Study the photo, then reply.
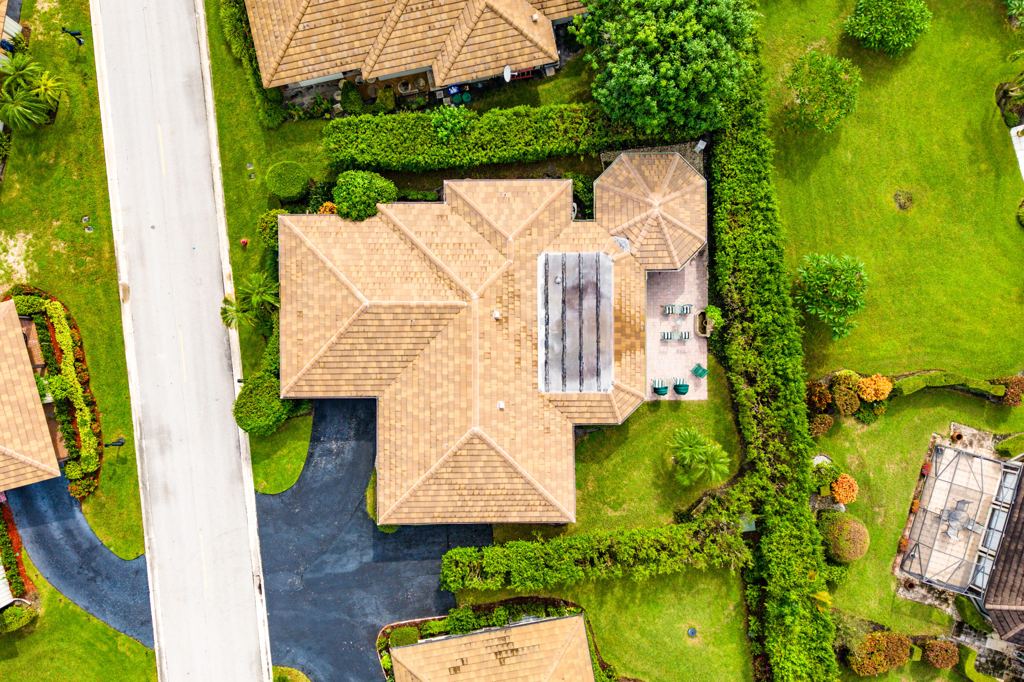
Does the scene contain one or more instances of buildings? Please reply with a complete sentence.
Yes, looking at the shot, I can spot a building.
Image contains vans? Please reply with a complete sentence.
No, no van is visible in the scene.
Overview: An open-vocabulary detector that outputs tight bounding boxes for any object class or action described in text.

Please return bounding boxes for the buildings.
[0,0,22,44]
[277,151,709,527]
[964,435,1024,650]
[0,299,62,492]
[388,611,597,682]
[245,0,603,92]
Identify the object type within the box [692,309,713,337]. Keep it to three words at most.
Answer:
fountain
